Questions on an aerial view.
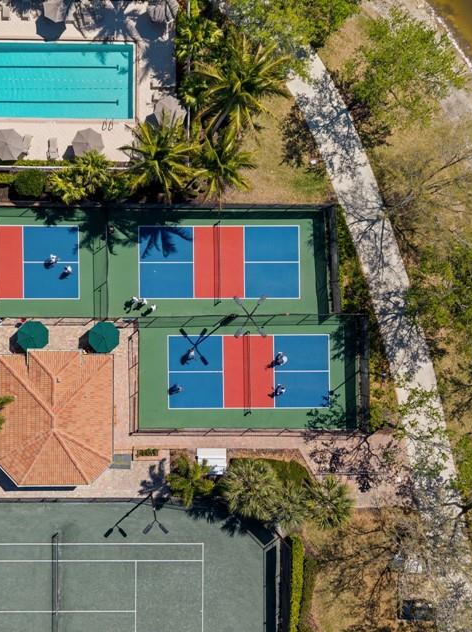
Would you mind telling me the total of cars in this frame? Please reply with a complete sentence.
Not a single car can be seen.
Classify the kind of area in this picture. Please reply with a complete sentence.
The picture captures a sports ground.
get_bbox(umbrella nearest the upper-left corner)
[41,0,76,33]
